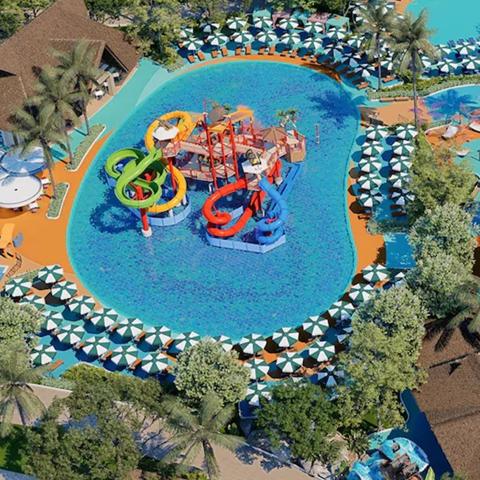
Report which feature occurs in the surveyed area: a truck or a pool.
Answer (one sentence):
Looking from above, you can make out a pool.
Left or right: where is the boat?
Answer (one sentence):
The boat is on the right side of the image.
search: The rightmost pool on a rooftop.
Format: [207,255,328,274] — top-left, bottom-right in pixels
[72,62,357,337]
